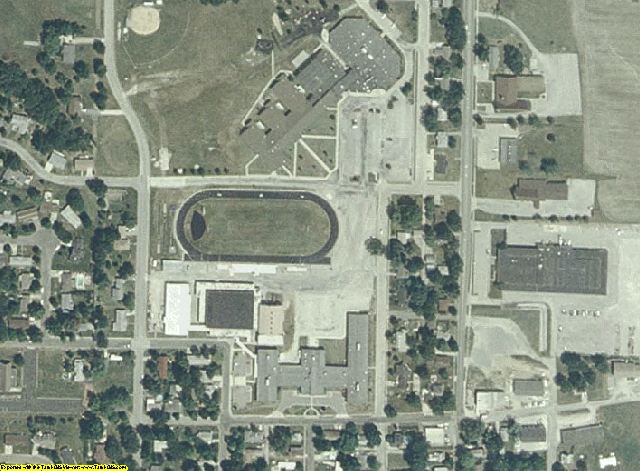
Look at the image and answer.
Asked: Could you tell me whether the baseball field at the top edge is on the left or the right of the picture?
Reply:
left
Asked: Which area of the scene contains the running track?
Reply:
center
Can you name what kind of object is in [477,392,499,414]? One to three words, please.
building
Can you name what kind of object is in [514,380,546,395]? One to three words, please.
building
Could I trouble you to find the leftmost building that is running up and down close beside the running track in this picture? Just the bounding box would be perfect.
[165,283,190,335]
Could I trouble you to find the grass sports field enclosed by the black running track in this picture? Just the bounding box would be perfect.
[186,200,329,254]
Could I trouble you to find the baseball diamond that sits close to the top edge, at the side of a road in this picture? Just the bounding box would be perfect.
[123,0,189,67]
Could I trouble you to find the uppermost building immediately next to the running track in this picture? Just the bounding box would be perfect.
[236,18,401,168]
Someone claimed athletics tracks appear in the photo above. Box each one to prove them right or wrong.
[176,190,339,264]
